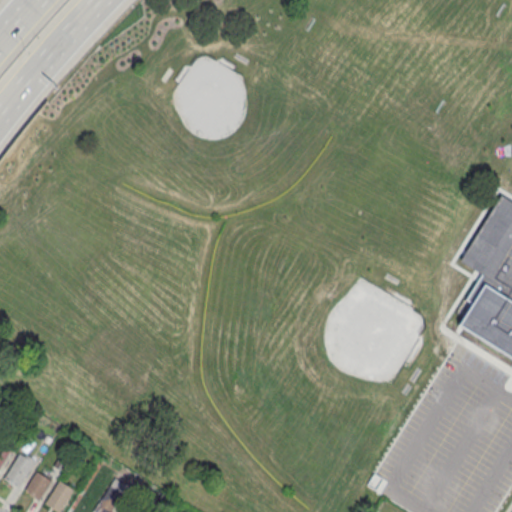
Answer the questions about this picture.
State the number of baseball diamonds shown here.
2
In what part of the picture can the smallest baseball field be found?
top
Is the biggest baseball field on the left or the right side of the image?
right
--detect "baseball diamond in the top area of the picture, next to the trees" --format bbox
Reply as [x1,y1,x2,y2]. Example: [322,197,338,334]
[175,56,248,140]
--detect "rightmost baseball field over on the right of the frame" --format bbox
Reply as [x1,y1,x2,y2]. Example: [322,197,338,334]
[326,276,422,383]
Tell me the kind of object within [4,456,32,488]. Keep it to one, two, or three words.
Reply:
house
